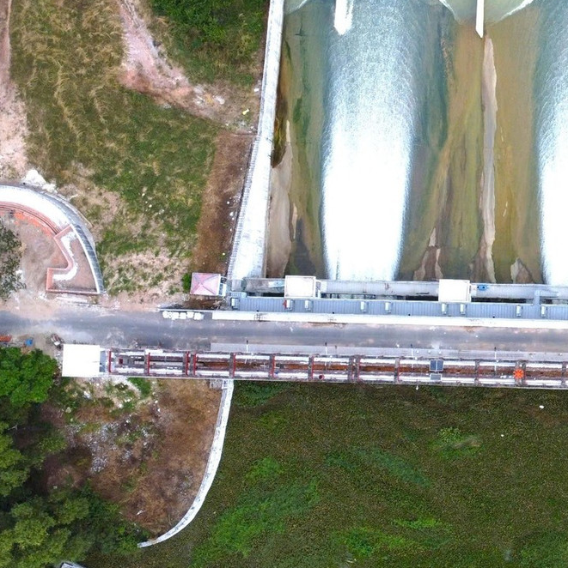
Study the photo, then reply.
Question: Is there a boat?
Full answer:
No, there appears to be no boat in this shot.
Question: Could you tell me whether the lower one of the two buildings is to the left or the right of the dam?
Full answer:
In the image, the lower one of the two buildings sits on the left side of the dam.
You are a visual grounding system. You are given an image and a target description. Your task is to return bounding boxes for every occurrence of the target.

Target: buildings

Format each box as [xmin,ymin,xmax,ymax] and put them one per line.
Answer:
[62,344,114,377]
[190,273,227,296]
